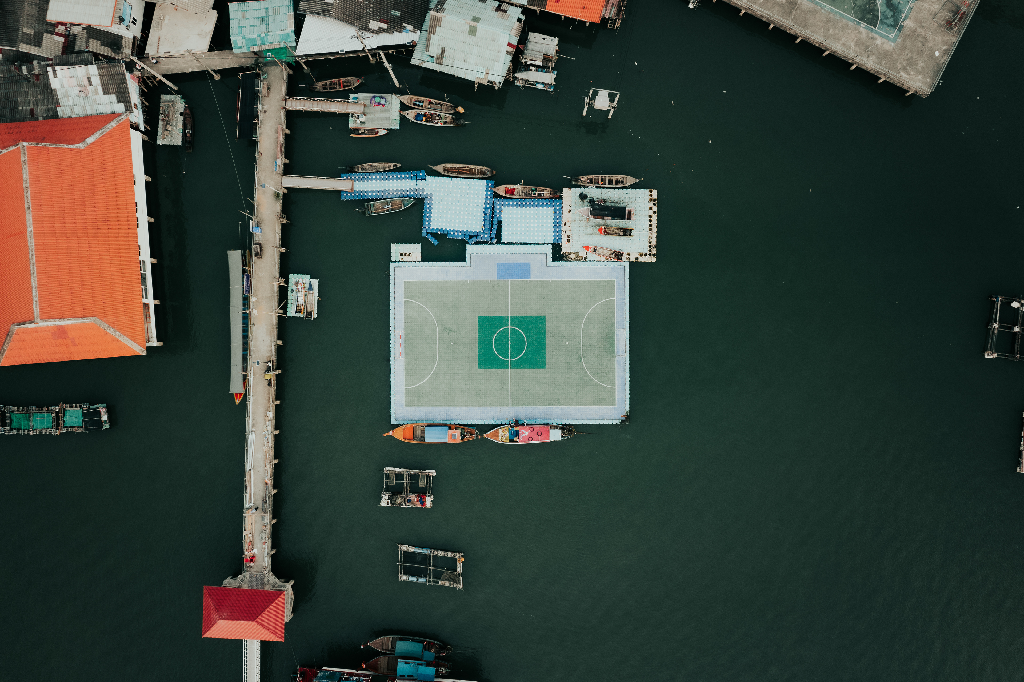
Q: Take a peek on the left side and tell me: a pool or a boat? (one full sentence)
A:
What appears on the left side is a boat.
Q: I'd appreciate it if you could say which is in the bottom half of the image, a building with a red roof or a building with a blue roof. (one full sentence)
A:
The one visible in the bottom half of the image is a building with a red roof.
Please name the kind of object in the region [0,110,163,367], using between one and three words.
building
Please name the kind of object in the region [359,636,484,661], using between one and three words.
boat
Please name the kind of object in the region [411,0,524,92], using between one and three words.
house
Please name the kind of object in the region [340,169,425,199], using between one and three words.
pier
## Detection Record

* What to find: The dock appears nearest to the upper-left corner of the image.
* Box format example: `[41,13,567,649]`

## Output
[155,94,184,146]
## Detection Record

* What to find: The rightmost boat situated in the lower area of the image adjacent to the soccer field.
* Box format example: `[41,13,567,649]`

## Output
[478,422,593,443]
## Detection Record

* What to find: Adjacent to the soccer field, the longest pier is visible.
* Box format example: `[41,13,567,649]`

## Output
[243,61,295,573]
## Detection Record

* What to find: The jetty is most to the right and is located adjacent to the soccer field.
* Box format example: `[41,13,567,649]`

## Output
[562,187,658,262]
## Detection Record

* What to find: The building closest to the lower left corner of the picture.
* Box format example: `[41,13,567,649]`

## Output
[201,571,295,643]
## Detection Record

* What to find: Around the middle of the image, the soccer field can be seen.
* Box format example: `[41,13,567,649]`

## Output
[390,244,630,425]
